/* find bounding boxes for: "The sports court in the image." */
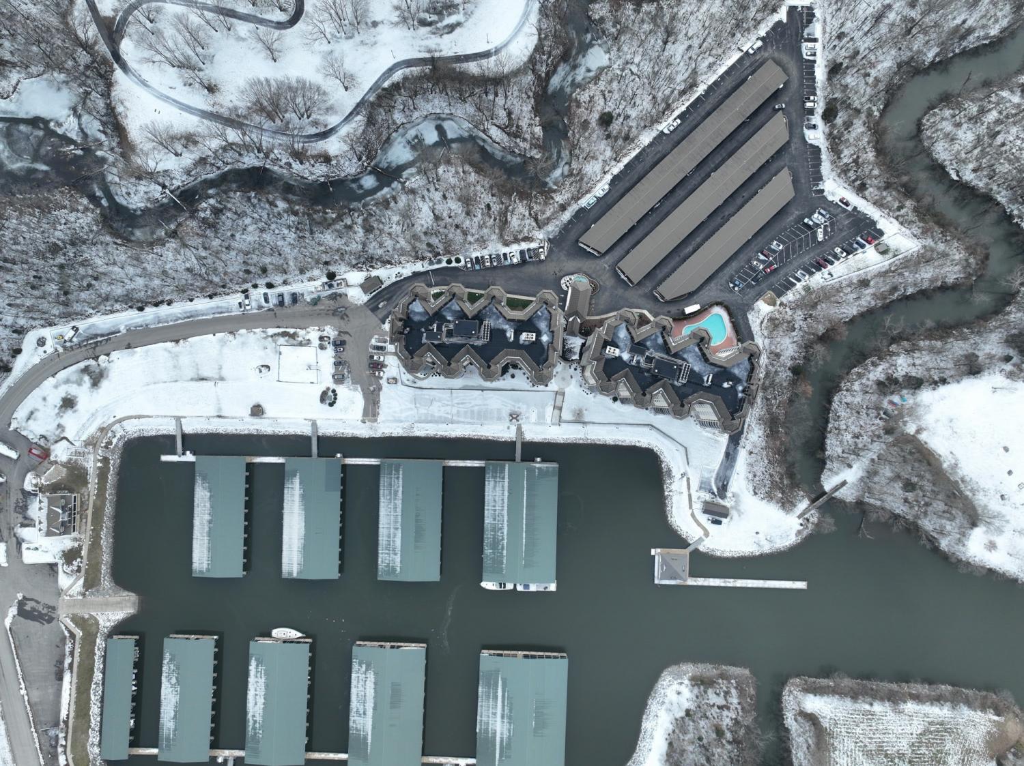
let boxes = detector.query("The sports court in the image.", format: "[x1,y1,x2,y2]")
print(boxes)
[276,345,318,383]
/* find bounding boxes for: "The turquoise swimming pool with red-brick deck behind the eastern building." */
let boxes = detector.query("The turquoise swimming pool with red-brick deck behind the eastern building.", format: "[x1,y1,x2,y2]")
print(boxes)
[671,305,738,354]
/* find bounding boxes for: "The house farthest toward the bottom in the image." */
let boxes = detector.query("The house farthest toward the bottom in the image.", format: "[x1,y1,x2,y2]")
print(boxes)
[654,548,689,585]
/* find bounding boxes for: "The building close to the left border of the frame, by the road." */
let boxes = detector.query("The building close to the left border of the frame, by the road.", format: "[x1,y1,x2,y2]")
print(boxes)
[39,494,81,537]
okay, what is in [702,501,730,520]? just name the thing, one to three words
building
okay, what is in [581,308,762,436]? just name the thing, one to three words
building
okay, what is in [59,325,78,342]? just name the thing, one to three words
vehicle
